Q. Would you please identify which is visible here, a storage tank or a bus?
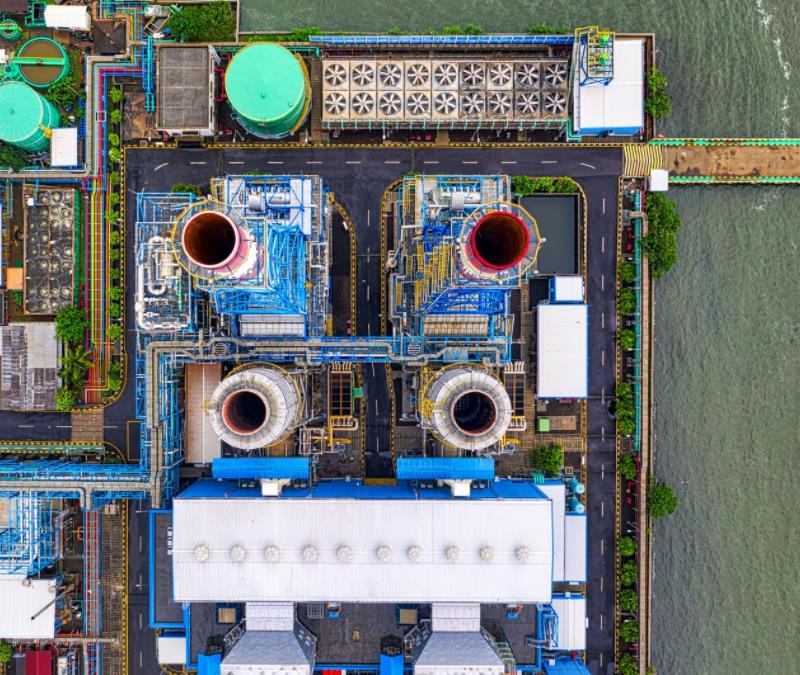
storage tank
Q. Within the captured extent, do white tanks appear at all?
No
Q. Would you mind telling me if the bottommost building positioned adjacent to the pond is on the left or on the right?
right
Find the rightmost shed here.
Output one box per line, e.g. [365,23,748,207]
[645,170,668,193]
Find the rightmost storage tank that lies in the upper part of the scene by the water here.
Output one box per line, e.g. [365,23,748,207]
[225,41,316,145]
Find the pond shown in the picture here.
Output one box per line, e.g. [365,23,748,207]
[516,192,580,276]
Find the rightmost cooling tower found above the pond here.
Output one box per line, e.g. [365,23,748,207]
[321,58,574,129]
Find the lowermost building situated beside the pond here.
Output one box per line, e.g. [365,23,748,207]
[531,305,589,398]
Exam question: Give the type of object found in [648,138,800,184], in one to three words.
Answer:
pier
